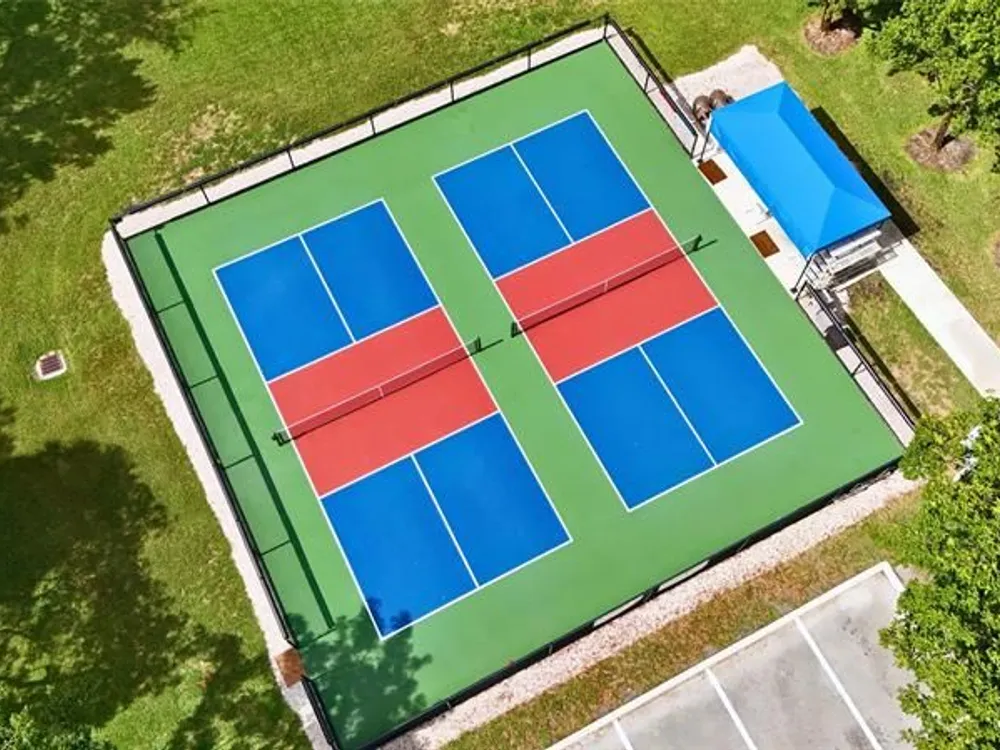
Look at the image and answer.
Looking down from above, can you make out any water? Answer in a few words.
No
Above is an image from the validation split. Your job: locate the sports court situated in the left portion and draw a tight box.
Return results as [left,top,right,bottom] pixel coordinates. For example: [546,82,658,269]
[214,198,572,640]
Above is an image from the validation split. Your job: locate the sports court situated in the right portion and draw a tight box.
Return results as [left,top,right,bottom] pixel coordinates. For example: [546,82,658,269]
[433,111,801,511]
